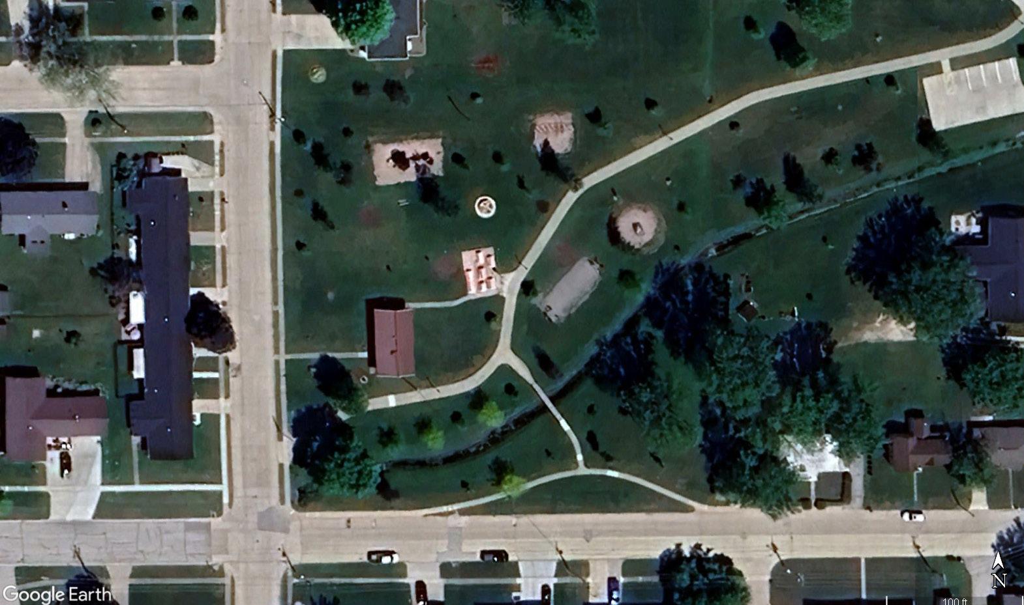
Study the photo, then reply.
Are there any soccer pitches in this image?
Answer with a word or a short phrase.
No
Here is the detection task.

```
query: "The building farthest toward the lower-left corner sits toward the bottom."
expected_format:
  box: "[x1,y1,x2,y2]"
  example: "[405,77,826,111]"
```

[3,375,112,465]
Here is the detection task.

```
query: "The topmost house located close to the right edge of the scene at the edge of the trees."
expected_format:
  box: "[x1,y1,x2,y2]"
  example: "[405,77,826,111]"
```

[948,214,1024,325]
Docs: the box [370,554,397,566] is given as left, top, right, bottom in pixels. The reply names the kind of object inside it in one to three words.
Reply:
vehicle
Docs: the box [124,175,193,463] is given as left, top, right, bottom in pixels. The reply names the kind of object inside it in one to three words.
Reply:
building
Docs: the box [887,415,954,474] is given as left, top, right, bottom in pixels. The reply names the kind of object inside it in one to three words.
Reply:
house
